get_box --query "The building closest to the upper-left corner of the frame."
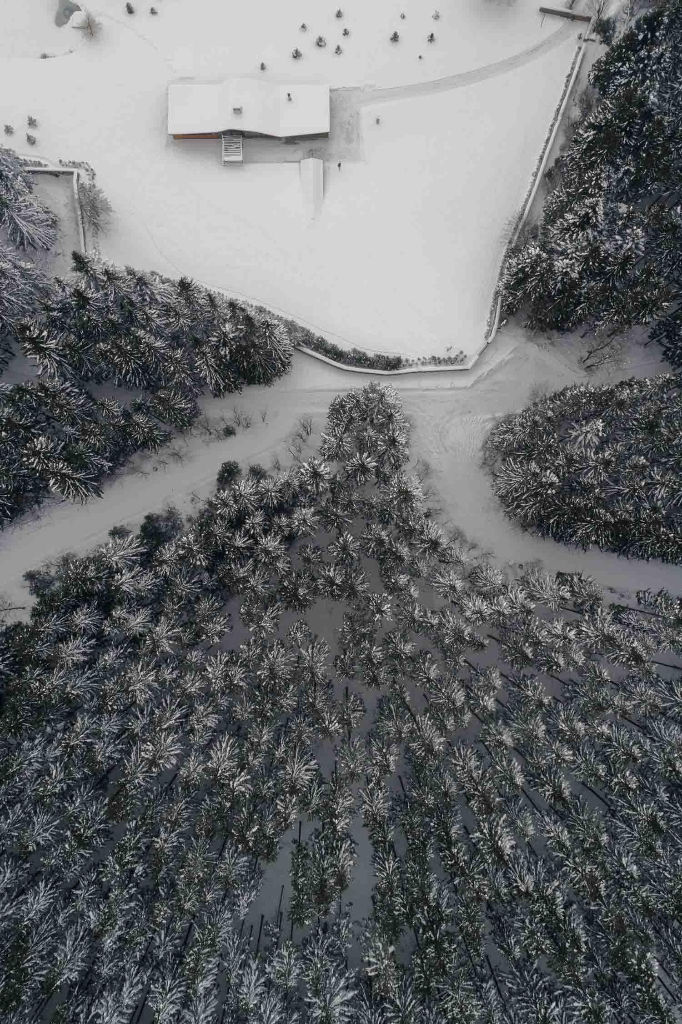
[168,79,330,139]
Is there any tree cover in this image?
Yes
